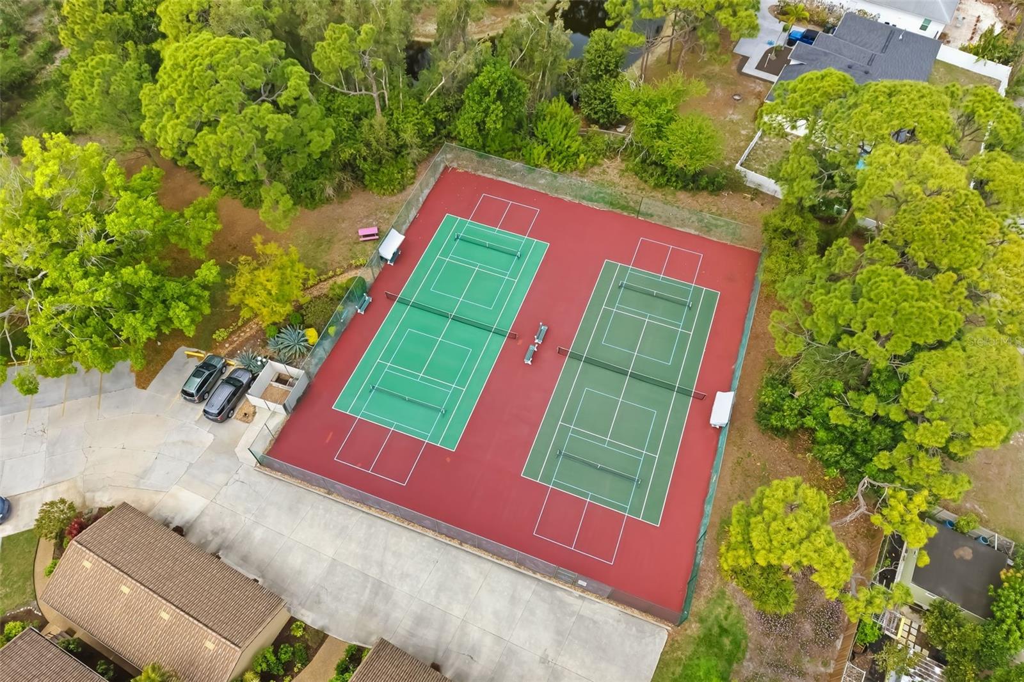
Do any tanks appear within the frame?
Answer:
No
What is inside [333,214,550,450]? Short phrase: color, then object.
green tennis court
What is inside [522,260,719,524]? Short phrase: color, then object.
green tennis court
